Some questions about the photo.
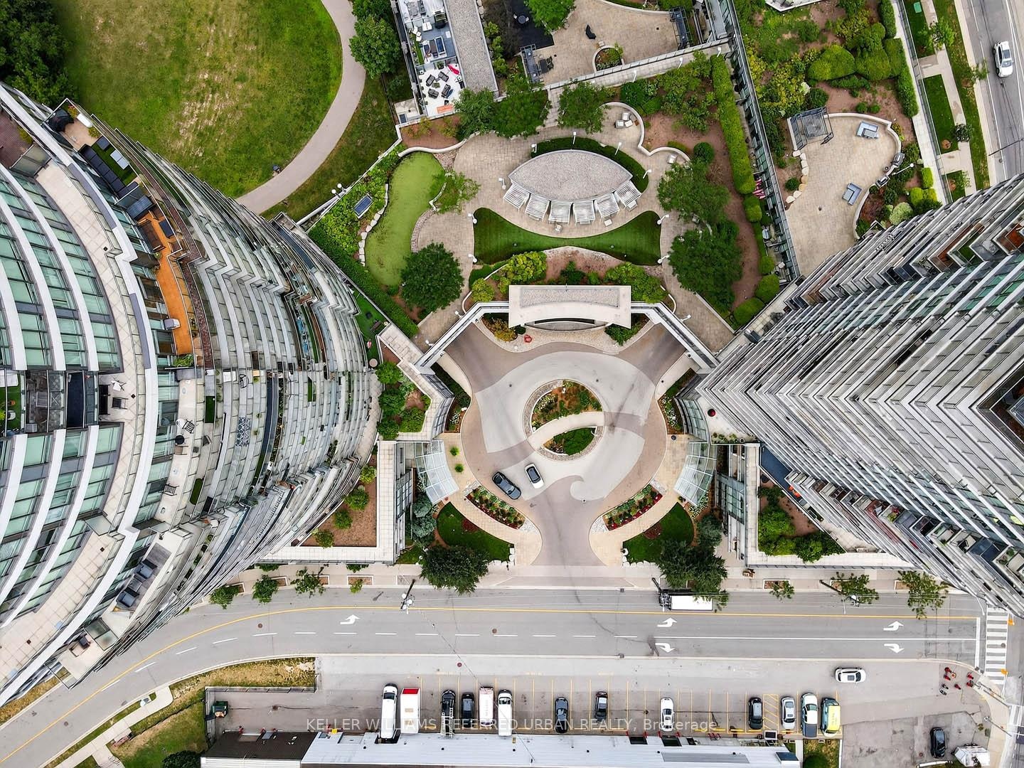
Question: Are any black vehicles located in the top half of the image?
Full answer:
No, I can find no black vehicle in the top half of the image.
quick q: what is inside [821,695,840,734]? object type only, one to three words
car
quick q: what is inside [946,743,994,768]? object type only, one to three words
trailer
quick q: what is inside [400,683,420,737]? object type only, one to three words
vehicle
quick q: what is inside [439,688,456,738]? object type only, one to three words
vehicle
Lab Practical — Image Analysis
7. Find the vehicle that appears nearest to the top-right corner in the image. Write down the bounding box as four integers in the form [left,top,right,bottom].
[992,40,1014,79]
